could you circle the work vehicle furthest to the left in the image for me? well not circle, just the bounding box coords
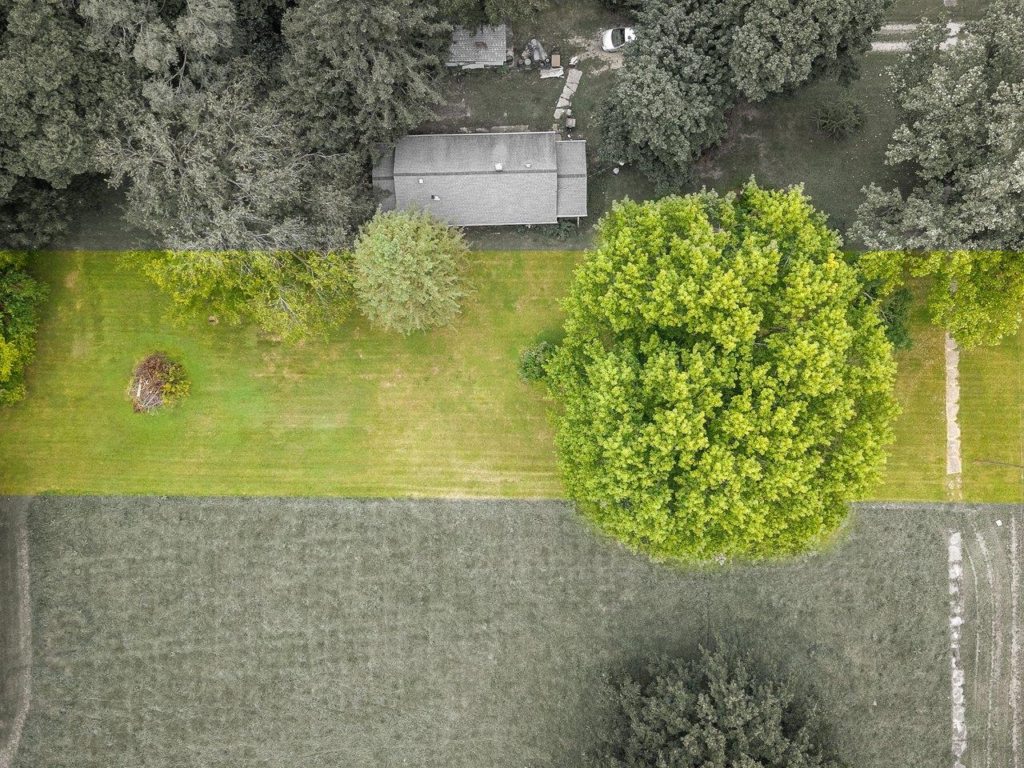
[532,40,548,63]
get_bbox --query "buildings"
[452,18,506,68]
[368,132,588,230]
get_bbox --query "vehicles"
[603,22,641,48]
[532,40,548,63]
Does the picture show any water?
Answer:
No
